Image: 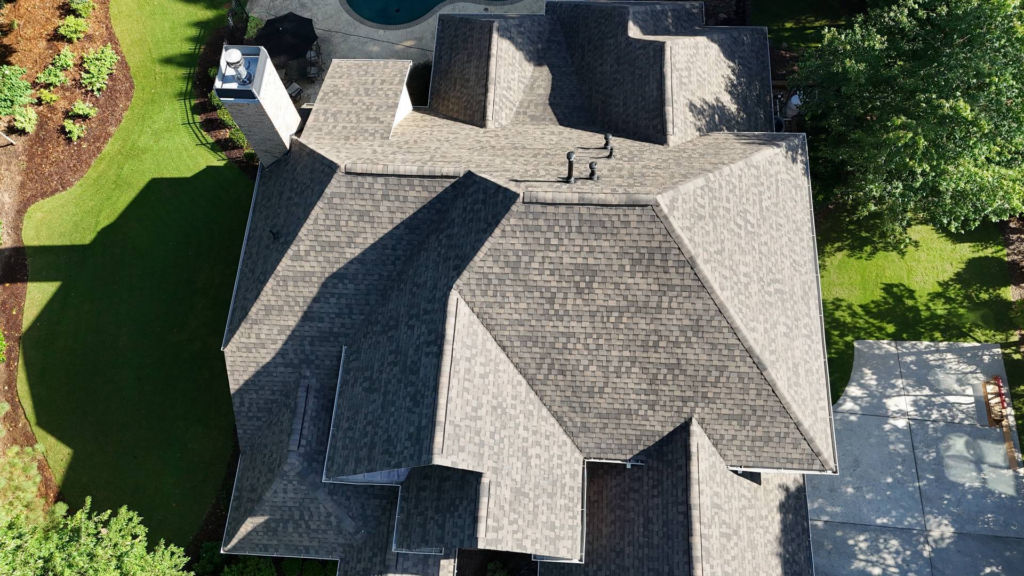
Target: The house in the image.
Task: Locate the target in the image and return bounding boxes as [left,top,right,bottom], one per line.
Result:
[210,0,841,576]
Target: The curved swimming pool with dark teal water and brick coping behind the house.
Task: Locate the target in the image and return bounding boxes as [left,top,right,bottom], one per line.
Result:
[340,0,523,30]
